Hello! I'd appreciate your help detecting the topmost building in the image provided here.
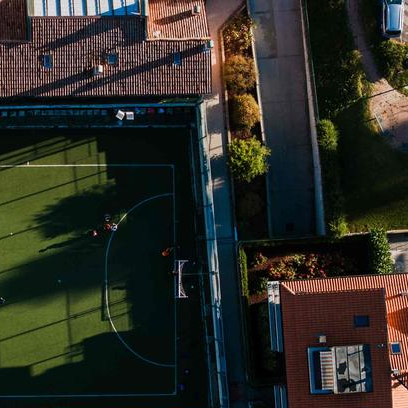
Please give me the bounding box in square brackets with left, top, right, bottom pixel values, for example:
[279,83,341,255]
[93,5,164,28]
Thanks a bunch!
[0,0,217,100]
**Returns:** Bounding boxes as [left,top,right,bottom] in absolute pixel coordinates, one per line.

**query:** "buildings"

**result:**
[266,274,408,408]
[0,0,217,100]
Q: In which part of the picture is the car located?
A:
top right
